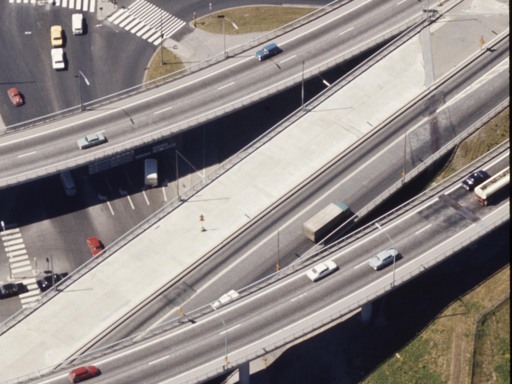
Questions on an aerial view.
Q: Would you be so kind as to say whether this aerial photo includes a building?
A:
No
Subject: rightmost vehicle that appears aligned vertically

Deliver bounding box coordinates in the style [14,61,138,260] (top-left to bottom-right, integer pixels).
[144,154,158,187]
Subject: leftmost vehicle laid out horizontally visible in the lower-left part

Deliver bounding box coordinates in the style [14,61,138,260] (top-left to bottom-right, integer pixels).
[0,284,28,300]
